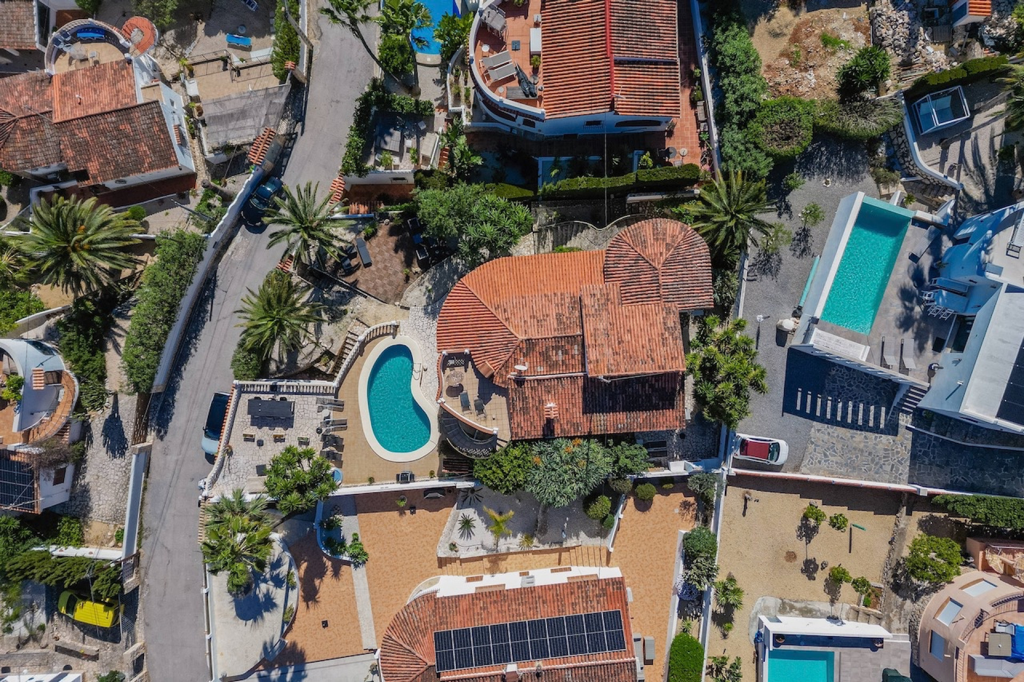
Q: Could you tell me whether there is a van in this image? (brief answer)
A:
Yes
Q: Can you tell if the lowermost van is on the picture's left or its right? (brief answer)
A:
left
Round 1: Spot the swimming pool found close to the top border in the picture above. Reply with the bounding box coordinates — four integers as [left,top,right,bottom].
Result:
[411,0,460,66]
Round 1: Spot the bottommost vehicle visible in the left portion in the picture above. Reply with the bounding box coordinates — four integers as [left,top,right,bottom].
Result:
[55,592,121,634]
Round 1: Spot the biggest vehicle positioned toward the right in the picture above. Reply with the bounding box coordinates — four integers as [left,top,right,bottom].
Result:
[733,437,792,468]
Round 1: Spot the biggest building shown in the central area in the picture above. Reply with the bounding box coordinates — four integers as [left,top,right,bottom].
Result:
[436,217,715,457]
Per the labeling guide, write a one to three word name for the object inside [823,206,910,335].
swimming pool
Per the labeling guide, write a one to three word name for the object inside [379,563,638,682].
house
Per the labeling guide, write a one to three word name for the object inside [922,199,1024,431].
house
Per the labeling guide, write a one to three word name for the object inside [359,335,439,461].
swimming pool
